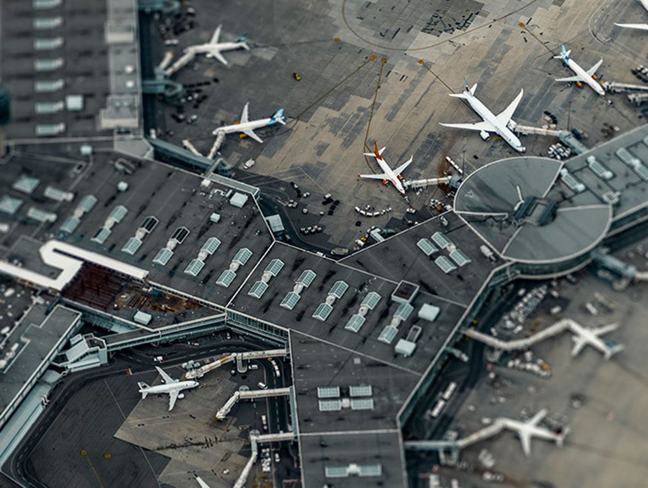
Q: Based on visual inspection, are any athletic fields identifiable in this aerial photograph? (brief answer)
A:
No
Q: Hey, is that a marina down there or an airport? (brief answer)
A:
airport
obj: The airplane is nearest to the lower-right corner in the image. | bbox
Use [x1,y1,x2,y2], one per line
[505,408,567,454]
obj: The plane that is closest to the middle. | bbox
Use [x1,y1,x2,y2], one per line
[360,145,412,195]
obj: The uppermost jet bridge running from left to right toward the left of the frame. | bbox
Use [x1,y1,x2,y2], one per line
[181,350,288,381]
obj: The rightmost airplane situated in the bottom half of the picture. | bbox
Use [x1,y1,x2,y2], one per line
[568,319,622,360]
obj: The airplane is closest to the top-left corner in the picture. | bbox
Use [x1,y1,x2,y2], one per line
[187,25,246,64]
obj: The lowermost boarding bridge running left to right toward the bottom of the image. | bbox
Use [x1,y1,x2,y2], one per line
[403,416,506,453]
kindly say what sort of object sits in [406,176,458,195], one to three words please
jet bridge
